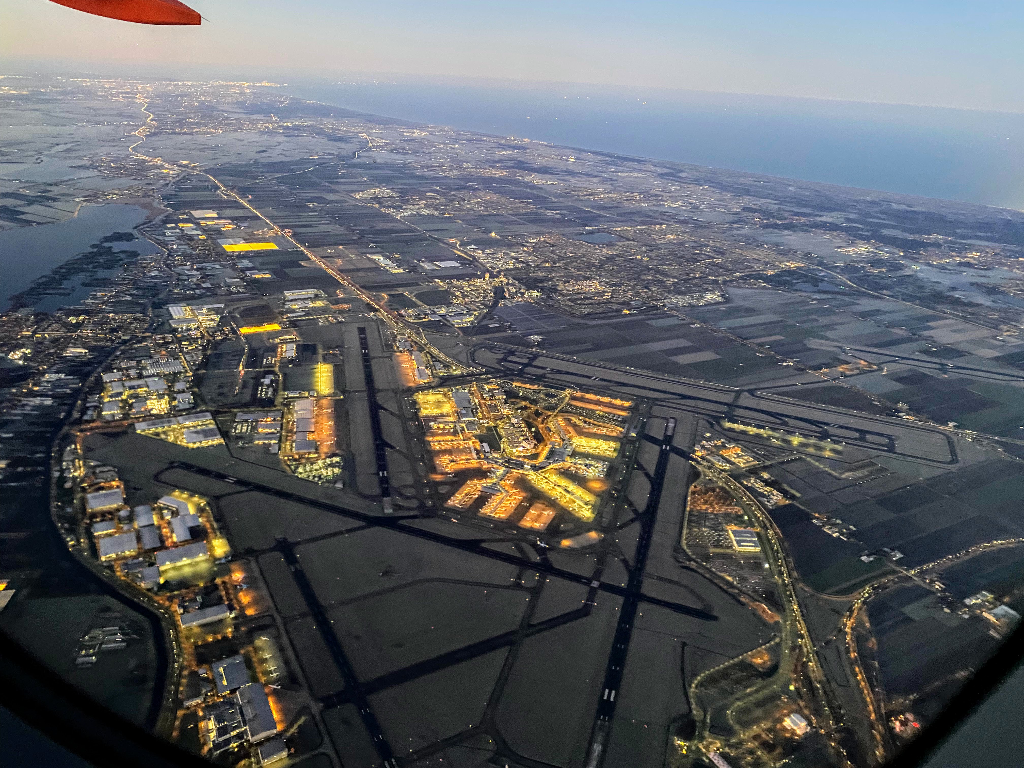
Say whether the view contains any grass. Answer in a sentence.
Yes, grass can be seen from above here.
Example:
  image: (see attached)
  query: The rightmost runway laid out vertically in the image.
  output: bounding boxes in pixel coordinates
[585,419,677,768]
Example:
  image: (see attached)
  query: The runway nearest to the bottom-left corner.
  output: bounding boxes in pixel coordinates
[276,536,401,768]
